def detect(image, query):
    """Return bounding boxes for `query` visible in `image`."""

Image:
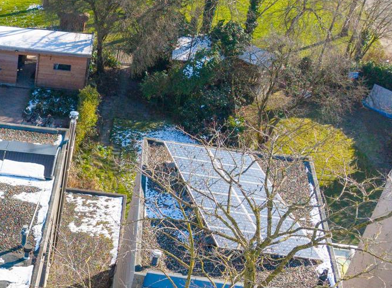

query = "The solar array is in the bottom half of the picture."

[160,142,317,258]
